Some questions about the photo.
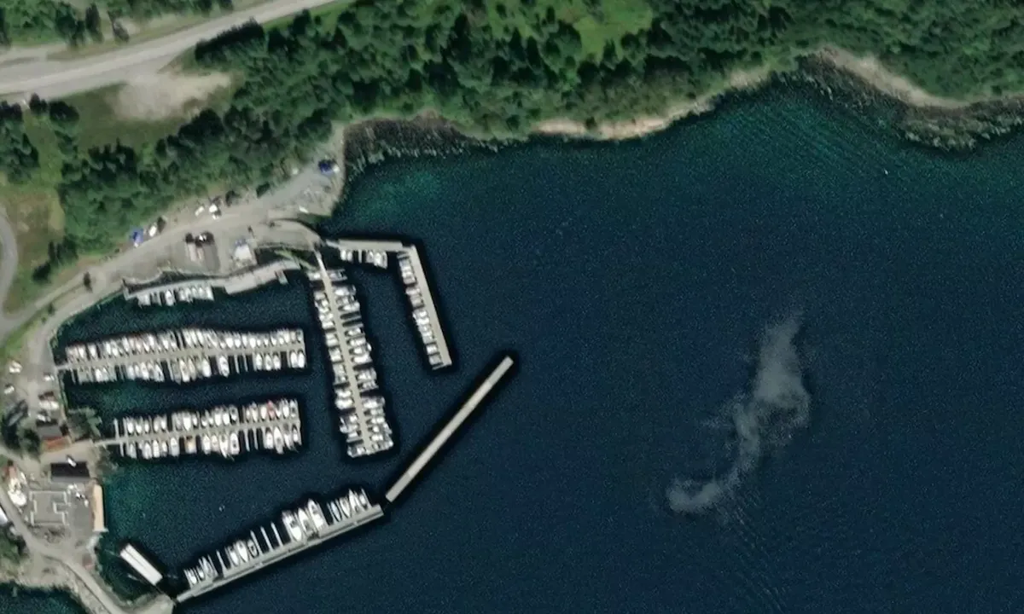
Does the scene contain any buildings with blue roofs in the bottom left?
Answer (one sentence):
No, no building with a blue roof appears in the bottom left.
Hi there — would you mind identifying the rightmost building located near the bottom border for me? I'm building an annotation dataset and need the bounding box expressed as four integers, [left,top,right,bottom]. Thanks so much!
[120,544,163,585]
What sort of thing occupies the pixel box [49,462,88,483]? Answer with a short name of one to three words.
building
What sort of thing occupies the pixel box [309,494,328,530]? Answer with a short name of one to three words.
boat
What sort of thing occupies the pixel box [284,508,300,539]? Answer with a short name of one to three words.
boat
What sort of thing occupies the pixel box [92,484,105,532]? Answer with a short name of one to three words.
building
